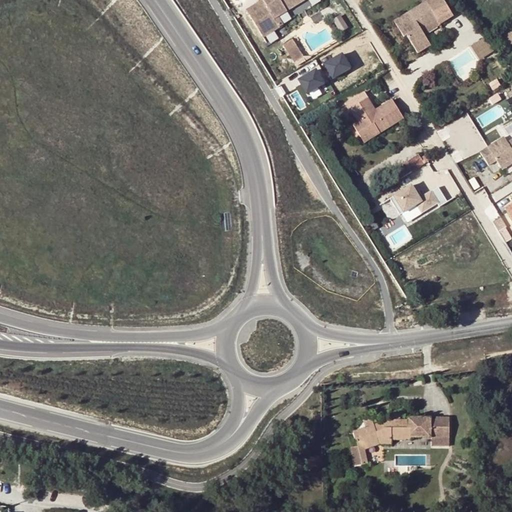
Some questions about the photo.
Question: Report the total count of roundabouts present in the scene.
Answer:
1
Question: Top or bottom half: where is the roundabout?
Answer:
bottom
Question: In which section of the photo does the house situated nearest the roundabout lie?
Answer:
bottom right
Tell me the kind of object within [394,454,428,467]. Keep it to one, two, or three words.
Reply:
swimming pool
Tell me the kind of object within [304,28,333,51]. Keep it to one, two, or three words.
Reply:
swimming pool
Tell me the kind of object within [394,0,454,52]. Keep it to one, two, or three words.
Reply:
house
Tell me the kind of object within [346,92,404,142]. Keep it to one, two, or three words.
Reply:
house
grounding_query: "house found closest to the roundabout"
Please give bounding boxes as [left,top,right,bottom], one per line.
[350,416,450,467]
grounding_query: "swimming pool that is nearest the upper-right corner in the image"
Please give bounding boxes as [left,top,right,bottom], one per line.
[450,48,477,74]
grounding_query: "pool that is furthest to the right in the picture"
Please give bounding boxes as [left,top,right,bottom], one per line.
[475,104,505,129]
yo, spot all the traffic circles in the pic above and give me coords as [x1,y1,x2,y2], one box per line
[216,294,318,398]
